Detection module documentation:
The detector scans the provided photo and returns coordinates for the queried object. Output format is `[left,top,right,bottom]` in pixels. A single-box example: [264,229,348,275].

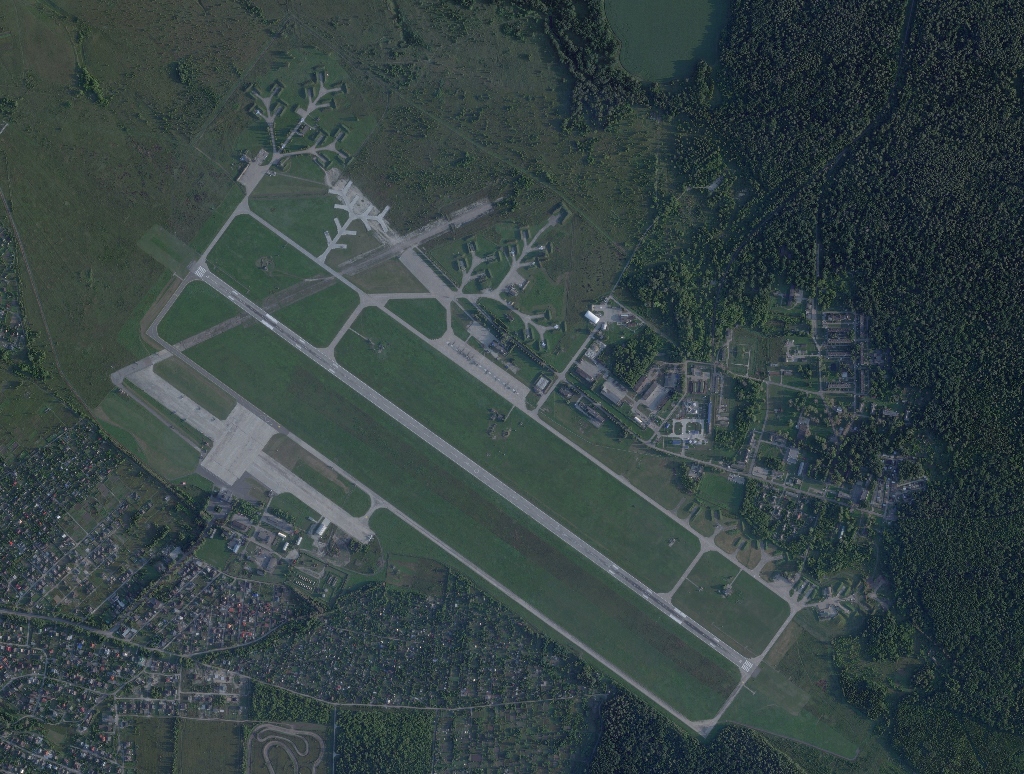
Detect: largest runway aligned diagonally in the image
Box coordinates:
[192,264,756,674]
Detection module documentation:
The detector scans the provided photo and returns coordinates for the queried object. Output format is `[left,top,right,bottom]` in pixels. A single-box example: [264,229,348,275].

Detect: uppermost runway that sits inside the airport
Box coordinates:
[338,198,493,276]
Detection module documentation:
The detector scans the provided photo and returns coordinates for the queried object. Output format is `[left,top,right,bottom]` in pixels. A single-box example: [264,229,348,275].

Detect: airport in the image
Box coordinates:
[111,72,854,738]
